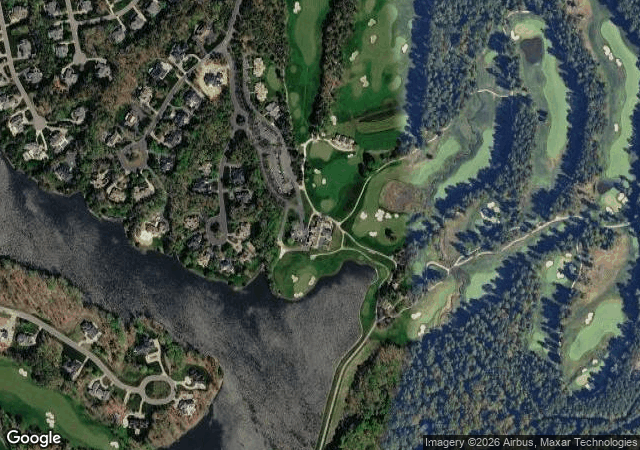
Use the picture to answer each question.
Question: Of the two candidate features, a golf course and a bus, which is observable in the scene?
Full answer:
The image shows a golf course.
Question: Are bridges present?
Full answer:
No, I find no bridge anywhere in the image.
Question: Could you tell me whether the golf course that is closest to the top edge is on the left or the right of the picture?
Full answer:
The golf course that is closest to the top edge sits on the right side.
